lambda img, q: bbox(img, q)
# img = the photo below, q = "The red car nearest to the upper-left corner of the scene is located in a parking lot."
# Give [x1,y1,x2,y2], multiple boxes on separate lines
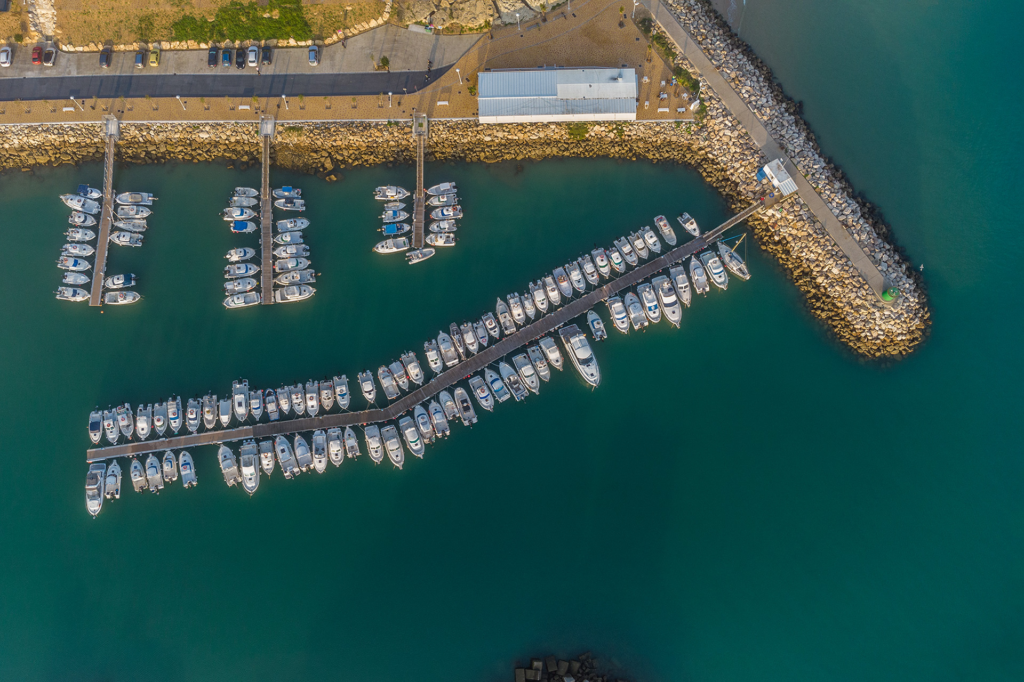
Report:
[29,46,42,63]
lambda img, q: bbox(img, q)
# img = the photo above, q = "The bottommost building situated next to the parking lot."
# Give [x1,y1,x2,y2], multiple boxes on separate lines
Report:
[478,64,639,124]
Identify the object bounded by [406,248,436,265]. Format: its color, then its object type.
gray boat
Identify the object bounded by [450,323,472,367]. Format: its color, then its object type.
gray boat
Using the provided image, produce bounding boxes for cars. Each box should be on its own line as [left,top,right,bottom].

[0,46,12,66]
[42,48,56,65]
[97,48,112,67]
[220,48,232,66]
[260,45,271,64]
[29,46,42,63]
[148,48,161,66]
[206,47,218,67]
[133,50,146,67]
[233,48,246,69]
[246,46,258,66]
[307,45,318,65]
